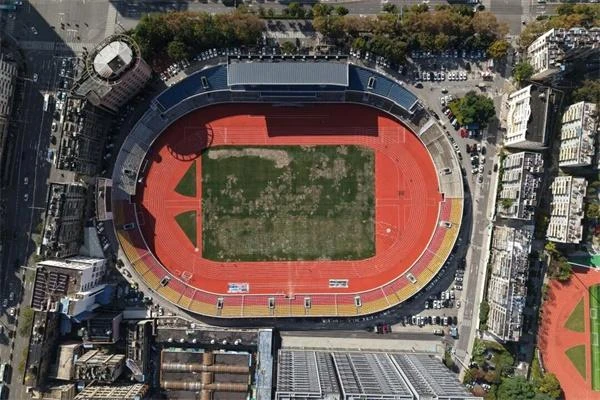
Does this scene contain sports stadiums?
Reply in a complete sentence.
Yes, there is a sports stadium in the image.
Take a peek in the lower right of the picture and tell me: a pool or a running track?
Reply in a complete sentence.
Looking in the lower right of the picture, you will find a running track.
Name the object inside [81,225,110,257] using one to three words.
shed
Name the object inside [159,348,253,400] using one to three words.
building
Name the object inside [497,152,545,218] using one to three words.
building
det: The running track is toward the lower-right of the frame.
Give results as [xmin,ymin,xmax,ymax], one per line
[537,269,600,400]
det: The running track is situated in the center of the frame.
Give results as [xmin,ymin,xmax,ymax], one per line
[136,100,440,296]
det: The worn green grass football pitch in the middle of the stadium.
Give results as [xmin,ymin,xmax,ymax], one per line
[202,146,375,262]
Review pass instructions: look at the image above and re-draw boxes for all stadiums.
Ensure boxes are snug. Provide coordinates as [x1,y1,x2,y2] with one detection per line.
[111,56,463,320]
